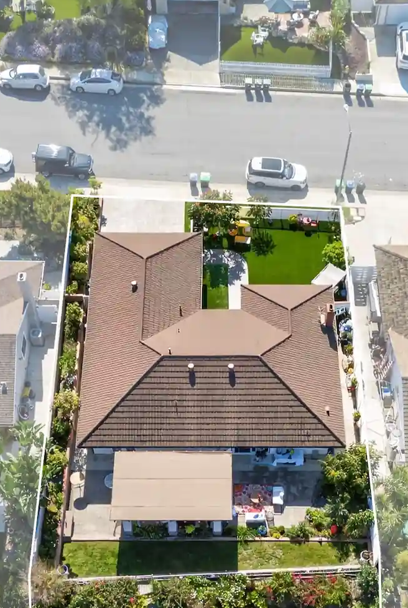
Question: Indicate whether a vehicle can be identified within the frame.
Yes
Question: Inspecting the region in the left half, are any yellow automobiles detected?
No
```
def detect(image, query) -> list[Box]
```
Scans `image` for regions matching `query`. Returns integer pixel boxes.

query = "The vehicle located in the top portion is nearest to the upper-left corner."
[0,64,49,92]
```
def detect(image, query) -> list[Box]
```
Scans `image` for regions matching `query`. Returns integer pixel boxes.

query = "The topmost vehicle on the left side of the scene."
[145,12,170,49]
